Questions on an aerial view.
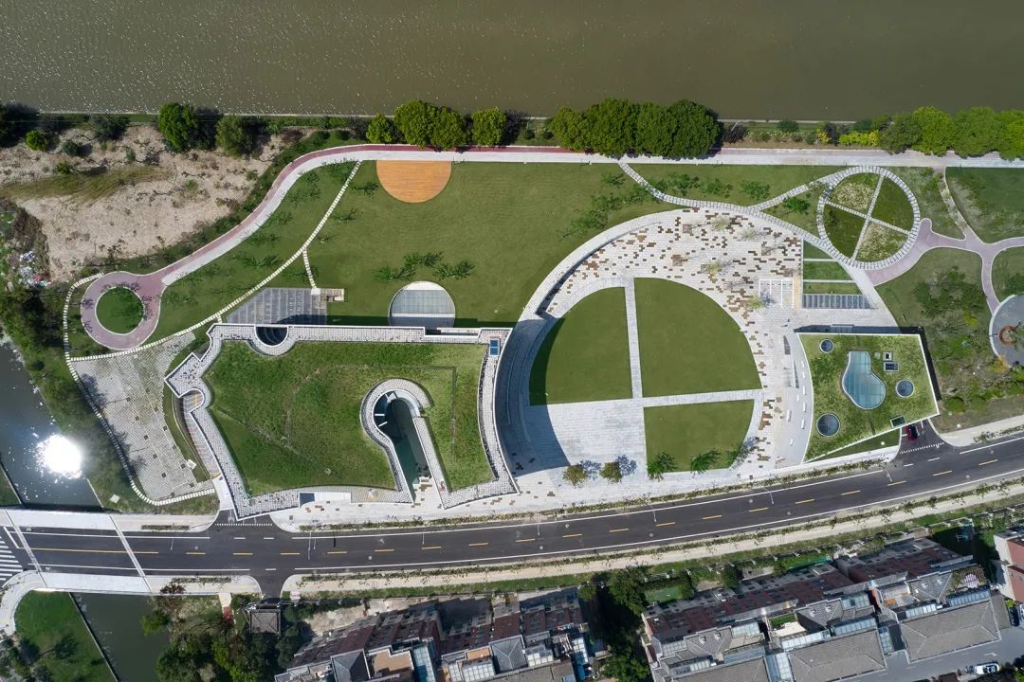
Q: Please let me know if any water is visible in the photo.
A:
Yes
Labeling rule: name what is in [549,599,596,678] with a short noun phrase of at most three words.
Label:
house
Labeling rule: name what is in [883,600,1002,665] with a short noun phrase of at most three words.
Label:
house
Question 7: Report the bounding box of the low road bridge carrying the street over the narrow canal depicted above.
[0,507,152,596]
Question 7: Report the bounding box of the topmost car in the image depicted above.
[906,424,921,443]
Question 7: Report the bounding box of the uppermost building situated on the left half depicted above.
[164,324,519,522]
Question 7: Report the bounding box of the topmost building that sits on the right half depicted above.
[775,325,940,468]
